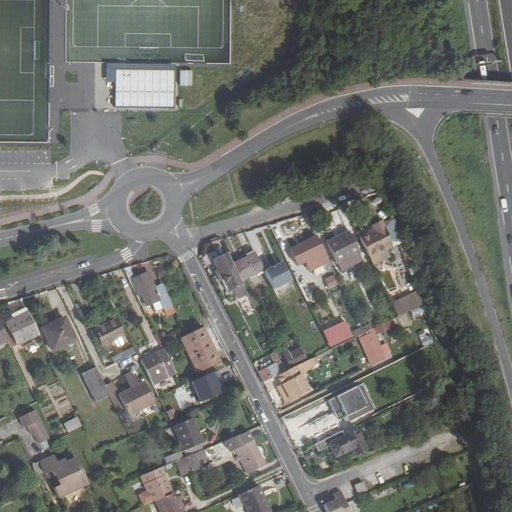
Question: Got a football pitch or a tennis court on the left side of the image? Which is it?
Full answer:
Looking on the left side of the image, you will find a football pitch.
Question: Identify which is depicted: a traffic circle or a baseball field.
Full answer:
The image shows a traffic circle.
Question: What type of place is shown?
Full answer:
The picture captures a residential area.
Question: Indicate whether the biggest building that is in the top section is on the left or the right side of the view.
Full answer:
It is on the left.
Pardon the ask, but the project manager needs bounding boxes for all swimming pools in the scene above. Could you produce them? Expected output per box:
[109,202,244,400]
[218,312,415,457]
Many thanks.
[382,270,397,292]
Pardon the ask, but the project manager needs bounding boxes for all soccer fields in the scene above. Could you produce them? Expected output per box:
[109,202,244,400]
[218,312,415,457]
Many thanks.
[0,0,48,140]
[66,0,230,62]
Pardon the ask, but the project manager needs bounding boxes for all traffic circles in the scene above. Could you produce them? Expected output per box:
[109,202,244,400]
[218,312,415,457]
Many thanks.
[107,166,199,256]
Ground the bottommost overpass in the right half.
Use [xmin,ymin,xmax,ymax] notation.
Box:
[462,80,512,118]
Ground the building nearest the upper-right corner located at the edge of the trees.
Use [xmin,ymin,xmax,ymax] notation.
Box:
[360,219,400,264]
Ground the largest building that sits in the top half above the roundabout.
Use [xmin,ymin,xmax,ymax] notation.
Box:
[105,62,176,108]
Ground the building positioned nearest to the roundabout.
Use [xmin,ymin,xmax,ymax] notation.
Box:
[133,257,176,316]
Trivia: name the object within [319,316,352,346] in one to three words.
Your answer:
house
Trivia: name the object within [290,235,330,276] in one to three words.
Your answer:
house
